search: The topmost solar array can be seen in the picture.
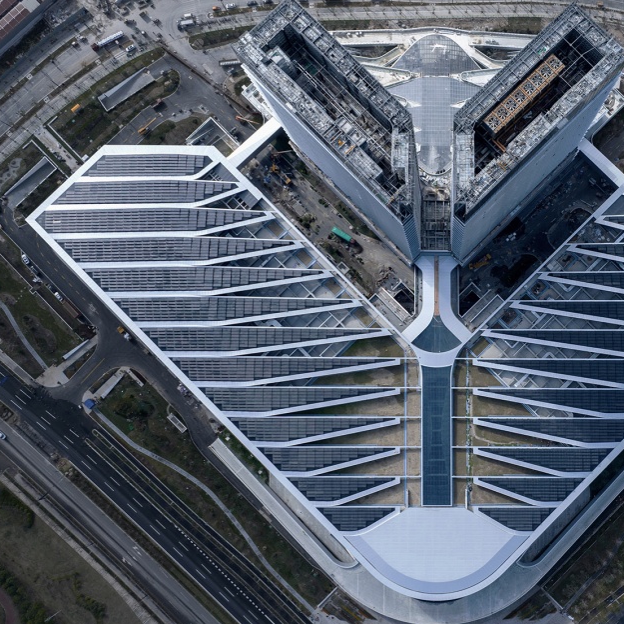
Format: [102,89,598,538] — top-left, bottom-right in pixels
[95,157,202,173]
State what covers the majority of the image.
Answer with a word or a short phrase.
buildings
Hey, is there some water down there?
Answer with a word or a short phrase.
No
